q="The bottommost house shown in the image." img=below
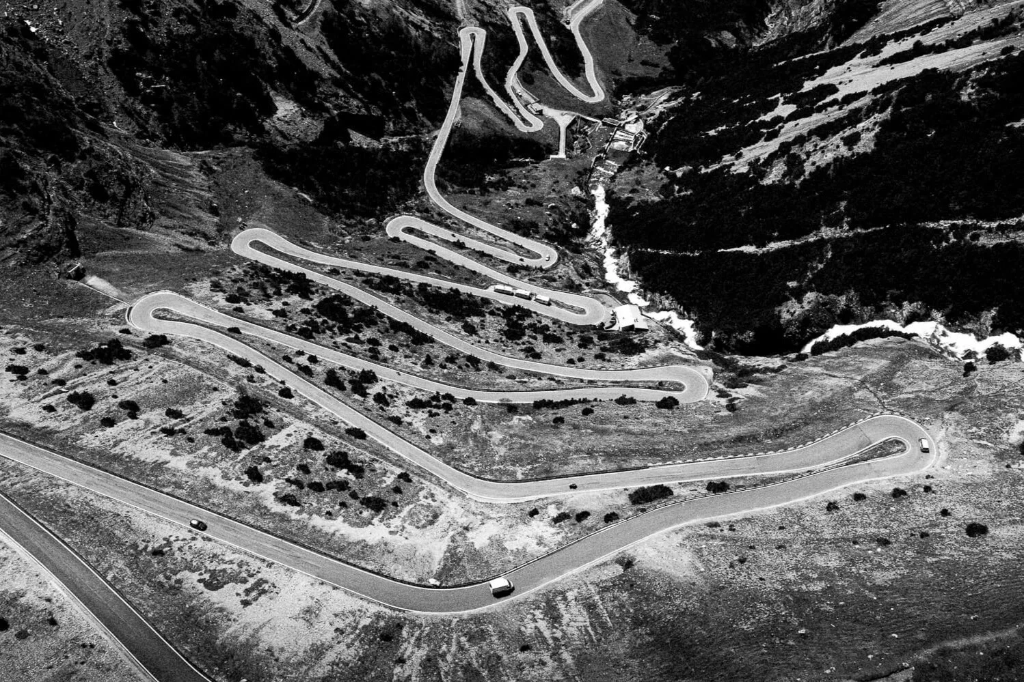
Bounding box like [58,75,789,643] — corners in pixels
[612,302,650,333]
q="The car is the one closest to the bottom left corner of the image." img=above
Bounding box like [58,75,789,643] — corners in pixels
[188,518,208,531]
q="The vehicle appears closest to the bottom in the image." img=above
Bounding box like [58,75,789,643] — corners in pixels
[489,580,514,594]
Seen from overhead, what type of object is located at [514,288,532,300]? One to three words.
vehicle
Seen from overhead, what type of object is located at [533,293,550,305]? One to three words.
vehicle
